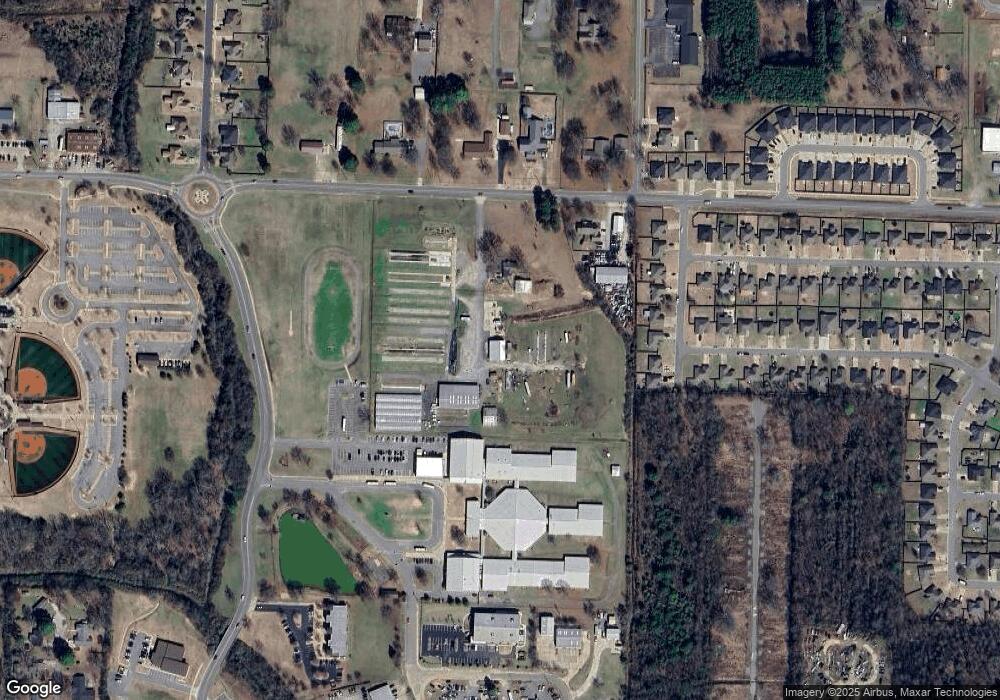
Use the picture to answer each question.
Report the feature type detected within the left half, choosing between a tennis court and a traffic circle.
traffic circle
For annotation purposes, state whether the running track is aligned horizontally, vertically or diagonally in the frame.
vertically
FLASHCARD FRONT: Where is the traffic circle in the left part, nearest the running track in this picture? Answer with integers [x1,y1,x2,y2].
[168,160,237,238]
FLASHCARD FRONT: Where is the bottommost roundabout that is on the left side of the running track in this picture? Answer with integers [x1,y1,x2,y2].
[40,282,80,322]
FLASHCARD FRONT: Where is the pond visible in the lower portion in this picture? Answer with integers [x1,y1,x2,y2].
[278,511,356,593]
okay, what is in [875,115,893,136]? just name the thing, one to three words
house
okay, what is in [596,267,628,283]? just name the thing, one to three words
building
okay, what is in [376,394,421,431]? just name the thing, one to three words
greenhouse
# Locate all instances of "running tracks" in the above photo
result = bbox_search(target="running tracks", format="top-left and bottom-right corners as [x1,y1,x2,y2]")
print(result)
[302,252,361,370]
